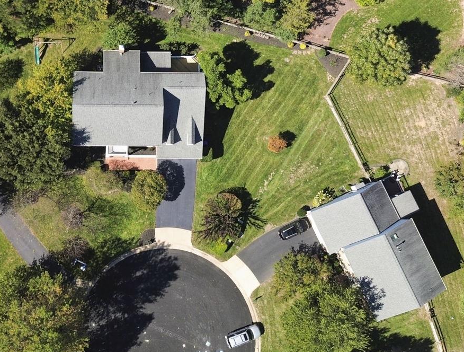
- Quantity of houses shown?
two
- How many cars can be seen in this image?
2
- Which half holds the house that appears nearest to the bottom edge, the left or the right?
right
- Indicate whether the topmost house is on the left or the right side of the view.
left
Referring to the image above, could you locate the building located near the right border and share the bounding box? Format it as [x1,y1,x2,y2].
[302,175,447,321]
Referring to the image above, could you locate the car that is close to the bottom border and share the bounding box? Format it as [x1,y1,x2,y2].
[226,325,263,348]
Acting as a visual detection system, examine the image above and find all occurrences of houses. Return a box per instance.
[302,175,447,321]
[72,46,207,160]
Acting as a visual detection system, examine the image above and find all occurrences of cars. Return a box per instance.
[276,218,311,241]
[226,325,263,348]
